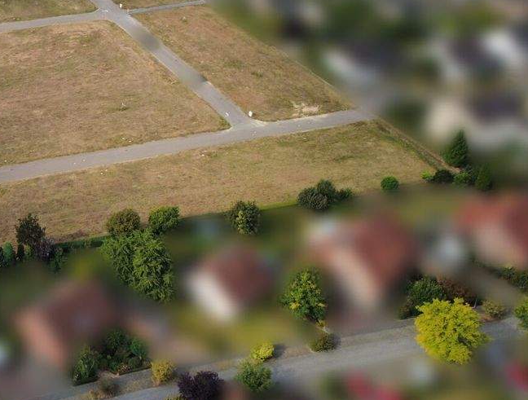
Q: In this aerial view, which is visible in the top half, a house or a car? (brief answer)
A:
house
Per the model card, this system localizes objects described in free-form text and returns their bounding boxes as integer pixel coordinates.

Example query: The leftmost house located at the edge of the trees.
[24,287,126,376]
